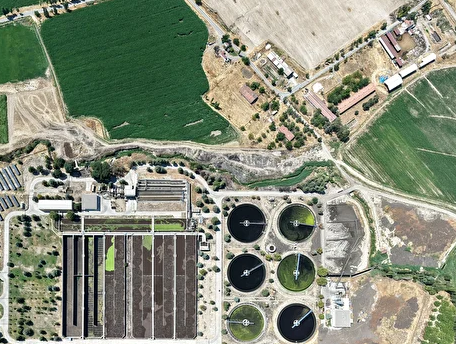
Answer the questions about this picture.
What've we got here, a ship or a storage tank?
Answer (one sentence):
The image shows a storage tank.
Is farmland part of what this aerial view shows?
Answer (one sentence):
Yes, there's farmland in this view.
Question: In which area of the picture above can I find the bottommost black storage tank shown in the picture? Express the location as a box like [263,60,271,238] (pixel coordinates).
[277,303,315,342]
